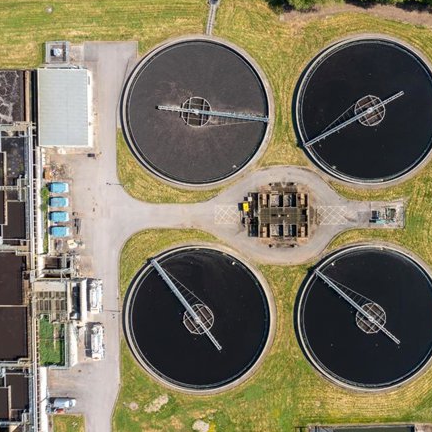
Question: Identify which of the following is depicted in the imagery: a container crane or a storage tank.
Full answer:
Visible in the photo is a storage tank.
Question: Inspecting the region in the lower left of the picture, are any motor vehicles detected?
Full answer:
Yes, there is a motor vehicle in the lower left of the picture.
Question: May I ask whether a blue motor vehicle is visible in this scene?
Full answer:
No, there is no blue motor vehicle in the image.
